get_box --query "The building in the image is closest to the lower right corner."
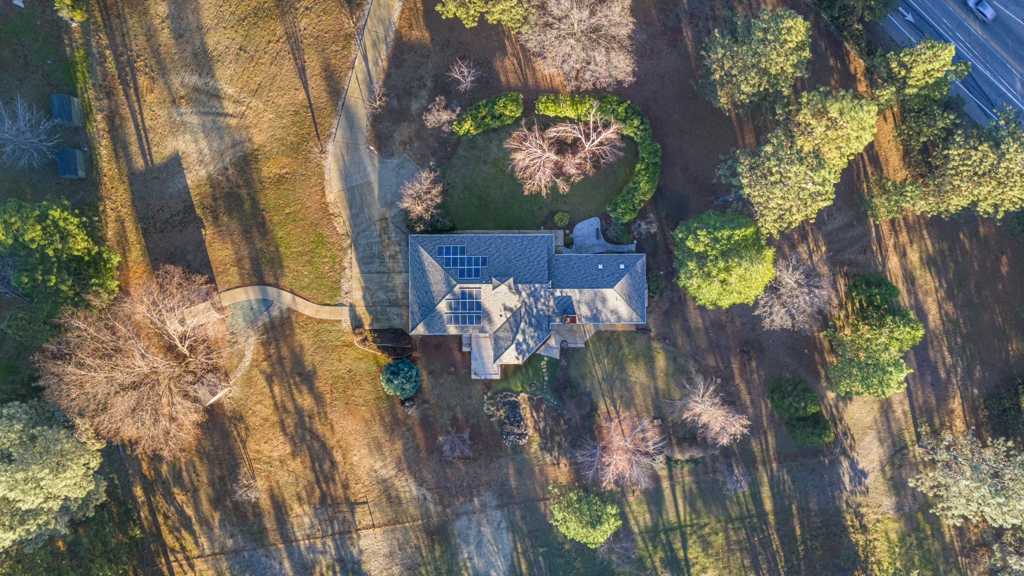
[408,234,646,364]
